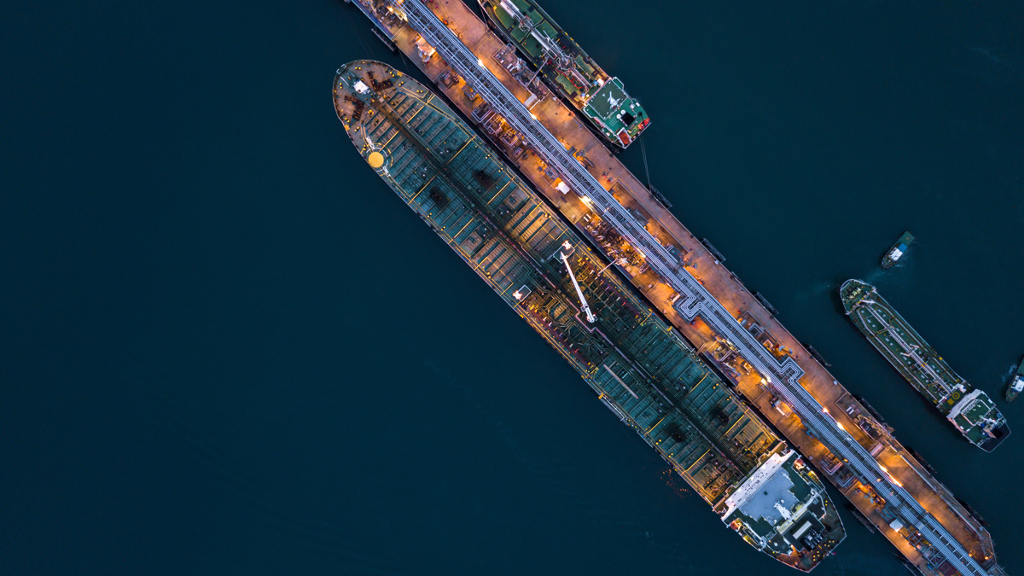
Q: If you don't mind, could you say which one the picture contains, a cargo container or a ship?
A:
ship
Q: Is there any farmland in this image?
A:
No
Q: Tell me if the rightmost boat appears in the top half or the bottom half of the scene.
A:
bottom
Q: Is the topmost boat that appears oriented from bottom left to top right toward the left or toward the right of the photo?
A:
right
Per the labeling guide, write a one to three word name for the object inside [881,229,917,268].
boat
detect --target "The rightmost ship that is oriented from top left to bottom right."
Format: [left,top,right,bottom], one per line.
[838,280,1012,452]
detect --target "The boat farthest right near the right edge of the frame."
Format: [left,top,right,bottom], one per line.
[1004,357,1024,402]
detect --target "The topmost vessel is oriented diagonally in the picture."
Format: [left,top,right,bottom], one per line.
[471,0,652,150]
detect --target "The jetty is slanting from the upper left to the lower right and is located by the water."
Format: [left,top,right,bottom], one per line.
[351,0,1010,576]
